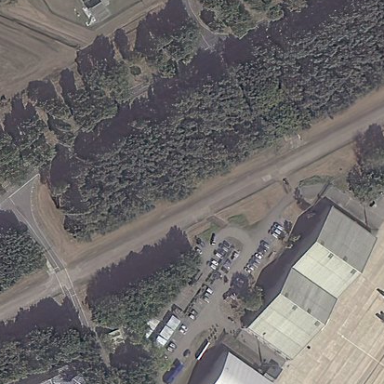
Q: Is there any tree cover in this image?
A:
Yes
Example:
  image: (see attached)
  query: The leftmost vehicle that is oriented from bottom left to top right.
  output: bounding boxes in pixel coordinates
[166,361,183,382]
